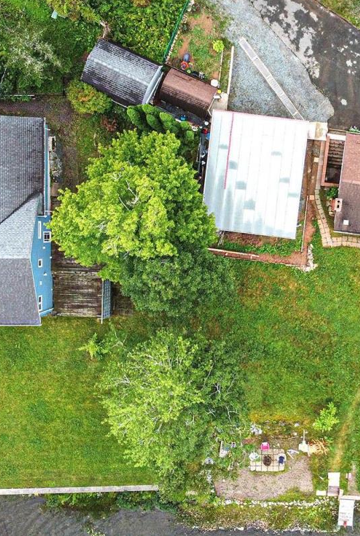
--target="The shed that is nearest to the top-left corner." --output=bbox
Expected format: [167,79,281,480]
[80,38,164,106]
